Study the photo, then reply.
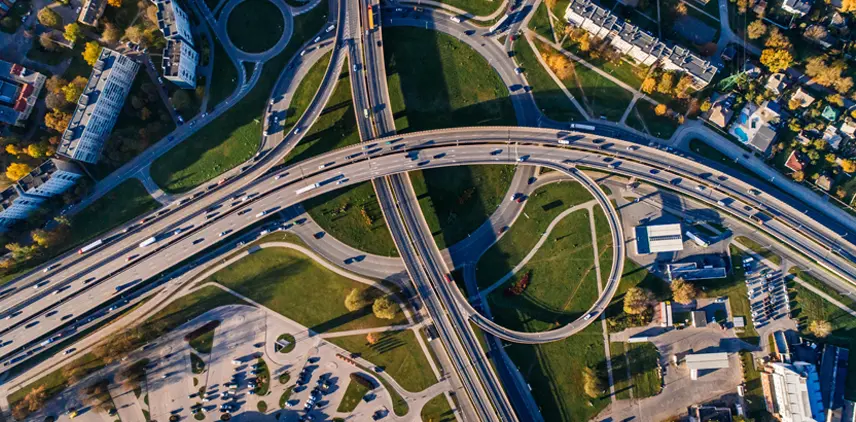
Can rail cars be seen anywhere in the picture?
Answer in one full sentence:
No, no rail car is visible in the scene.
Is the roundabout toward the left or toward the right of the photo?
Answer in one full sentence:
The roundabout sits on the left side.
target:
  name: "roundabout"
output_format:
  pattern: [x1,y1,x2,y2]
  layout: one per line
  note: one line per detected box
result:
[218,0,293,62]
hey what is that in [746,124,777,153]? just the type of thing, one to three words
house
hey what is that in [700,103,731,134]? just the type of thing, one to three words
house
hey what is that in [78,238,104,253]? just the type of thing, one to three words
vehicle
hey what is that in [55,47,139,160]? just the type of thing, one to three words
building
